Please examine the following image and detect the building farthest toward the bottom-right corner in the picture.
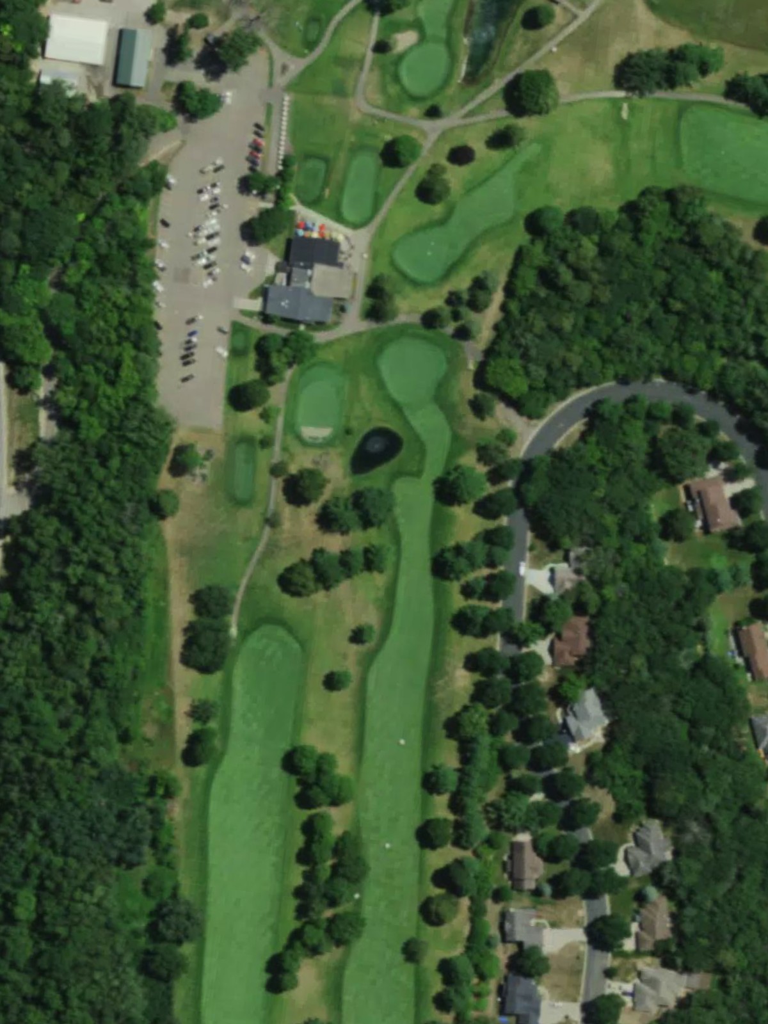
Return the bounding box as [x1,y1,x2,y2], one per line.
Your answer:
[631,961,712,1013]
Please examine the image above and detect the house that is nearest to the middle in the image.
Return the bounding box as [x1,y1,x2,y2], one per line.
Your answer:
[554,549,580,590]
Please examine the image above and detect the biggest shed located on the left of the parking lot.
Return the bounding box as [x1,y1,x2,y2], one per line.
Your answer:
[45,14,108,66]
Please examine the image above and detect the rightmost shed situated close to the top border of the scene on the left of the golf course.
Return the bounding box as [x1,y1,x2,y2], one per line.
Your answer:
[116,28,151,88]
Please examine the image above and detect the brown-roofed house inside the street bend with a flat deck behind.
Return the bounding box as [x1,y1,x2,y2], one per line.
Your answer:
[688,476,742,534]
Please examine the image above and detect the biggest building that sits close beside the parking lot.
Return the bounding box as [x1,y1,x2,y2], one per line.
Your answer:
[265,238,352,324]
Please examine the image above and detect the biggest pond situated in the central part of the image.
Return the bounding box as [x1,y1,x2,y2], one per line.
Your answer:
[350,426,404,475]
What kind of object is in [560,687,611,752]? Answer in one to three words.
house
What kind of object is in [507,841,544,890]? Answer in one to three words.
house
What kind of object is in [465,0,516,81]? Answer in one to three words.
pond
